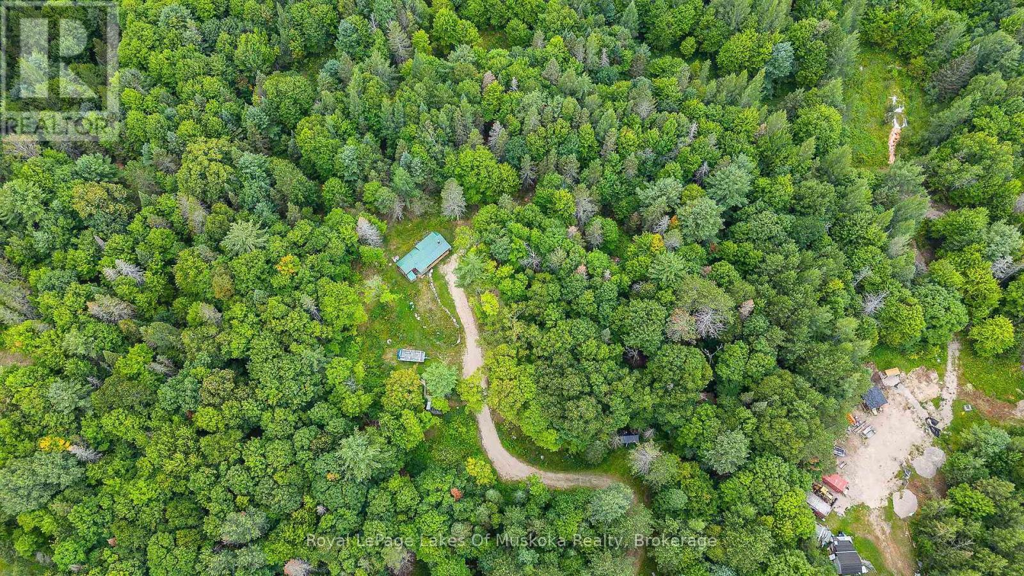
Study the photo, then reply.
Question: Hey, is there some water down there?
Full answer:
No, water can't be seen anywhere here.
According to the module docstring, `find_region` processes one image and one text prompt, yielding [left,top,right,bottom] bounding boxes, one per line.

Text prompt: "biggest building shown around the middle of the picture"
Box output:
[396,231,454,283]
